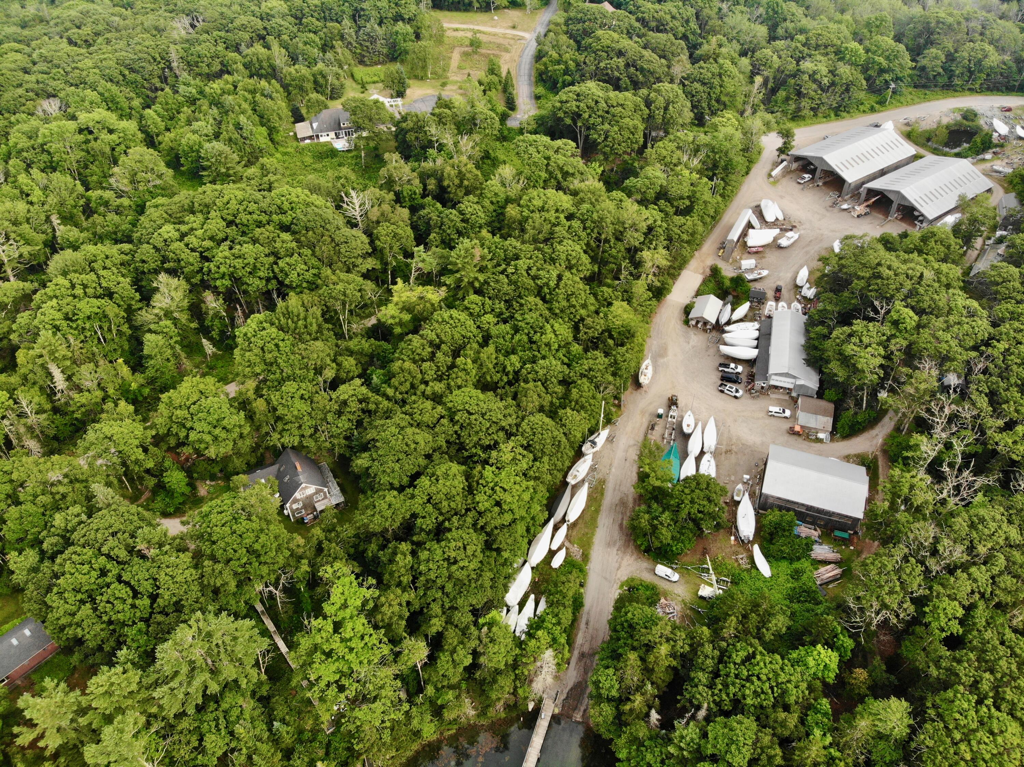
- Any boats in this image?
Yes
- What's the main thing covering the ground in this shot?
trees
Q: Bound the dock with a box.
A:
[522,687,560,767]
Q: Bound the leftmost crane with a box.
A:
[695,554,721,602]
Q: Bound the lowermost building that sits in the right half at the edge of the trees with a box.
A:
[755,444,869,533]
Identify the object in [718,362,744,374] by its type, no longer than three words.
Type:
vehicle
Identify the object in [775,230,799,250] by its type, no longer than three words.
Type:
boat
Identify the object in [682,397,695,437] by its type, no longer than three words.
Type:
boat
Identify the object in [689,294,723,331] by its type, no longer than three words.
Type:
building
